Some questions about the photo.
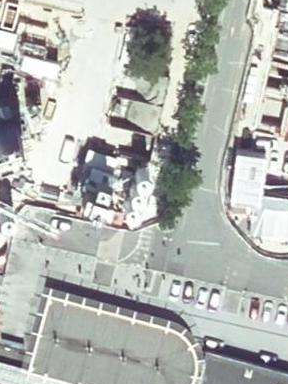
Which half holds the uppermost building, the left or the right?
left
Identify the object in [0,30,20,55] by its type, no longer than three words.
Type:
building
